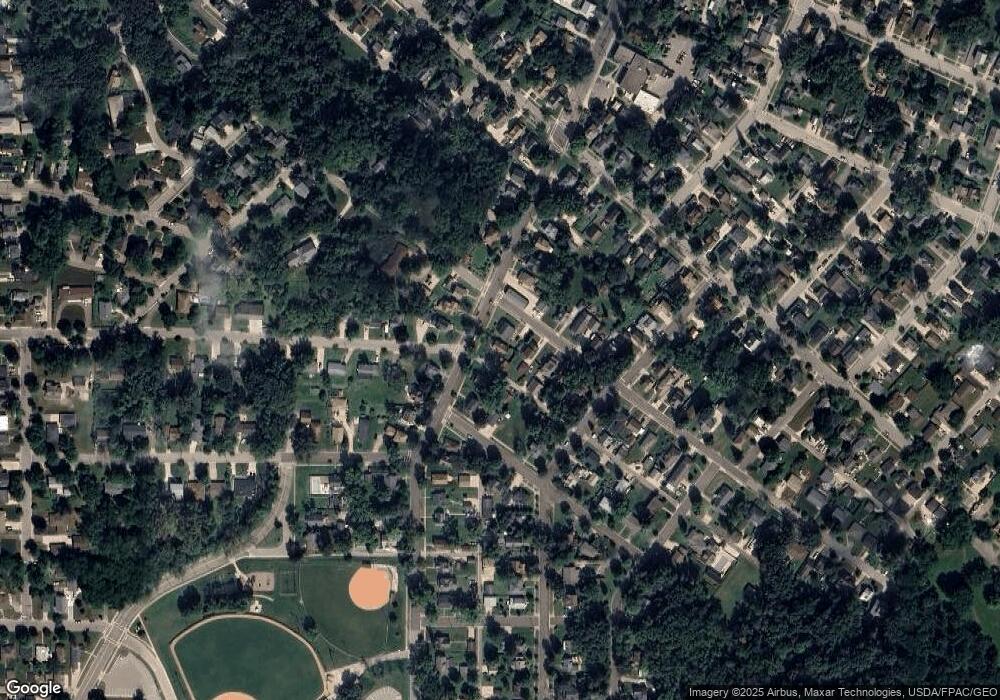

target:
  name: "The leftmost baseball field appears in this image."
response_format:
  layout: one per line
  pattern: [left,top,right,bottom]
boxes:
[171,613,329,700]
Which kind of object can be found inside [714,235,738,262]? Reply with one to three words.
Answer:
house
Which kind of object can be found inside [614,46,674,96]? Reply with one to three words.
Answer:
building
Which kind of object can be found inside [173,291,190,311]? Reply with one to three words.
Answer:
house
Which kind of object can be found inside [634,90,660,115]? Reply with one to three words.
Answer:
building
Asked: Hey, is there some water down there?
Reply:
No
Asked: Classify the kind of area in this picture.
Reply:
residential area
